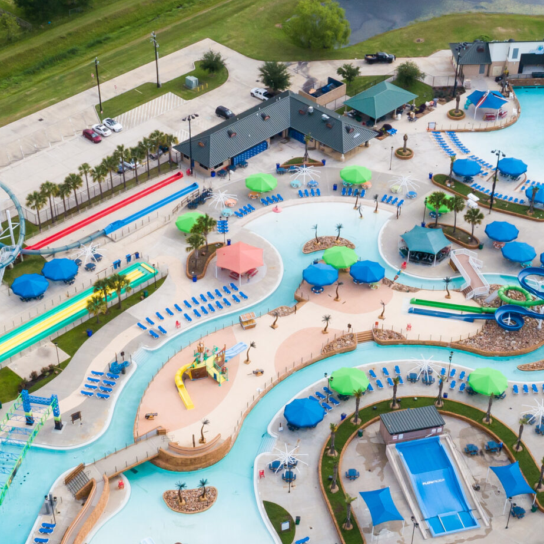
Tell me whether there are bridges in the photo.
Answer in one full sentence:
Yes, this view includes a bridge.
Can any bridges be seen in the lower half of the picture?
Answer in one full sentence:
Yes, looking in the lower half of the picture, one can make out a bridge.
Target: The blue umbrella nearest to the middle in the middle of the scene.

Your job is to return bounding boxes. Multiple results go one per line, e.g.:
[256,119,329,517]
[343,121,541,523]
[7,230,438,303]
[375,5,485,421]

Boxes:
[303,262,339,285]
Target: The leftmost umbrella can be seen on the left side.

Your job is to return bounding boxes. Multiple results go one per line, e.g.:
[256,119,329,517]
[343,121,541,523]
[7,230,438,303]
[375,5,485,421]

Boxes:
[12,276,47,301]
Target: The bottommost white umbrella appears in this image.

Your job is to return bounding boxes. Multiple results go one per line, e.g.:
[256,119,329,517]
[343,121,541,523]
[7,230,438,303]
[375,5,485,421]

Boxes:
[263,444,307,474]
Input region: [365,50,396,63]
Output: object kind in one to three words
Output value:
vehicle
